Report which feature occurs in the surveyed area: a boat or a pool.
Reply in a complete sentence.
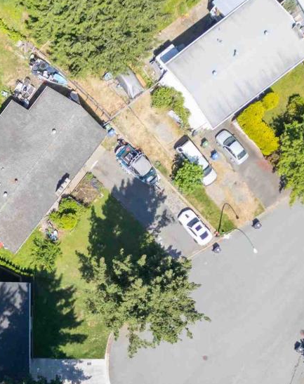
Visible in the photo is a boat.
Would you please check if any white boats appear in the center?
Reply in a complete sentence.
Yes, looking in the center, one can make out a white boat.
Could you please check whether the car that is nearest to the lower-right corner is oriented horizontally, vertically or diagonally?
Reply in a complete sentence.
In this picture, the car that is nearest to the lower-right corner is oriented diagonally.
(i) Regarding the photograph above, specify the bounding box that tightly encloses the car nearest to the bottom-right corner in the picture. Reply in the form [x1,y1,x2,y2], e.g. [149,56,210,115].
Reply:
[173,204,214,250]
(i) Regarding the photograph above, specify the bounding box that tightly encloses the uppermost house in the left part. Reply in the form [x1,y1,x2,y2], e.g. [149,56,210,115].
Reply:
[0,86,106,255]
